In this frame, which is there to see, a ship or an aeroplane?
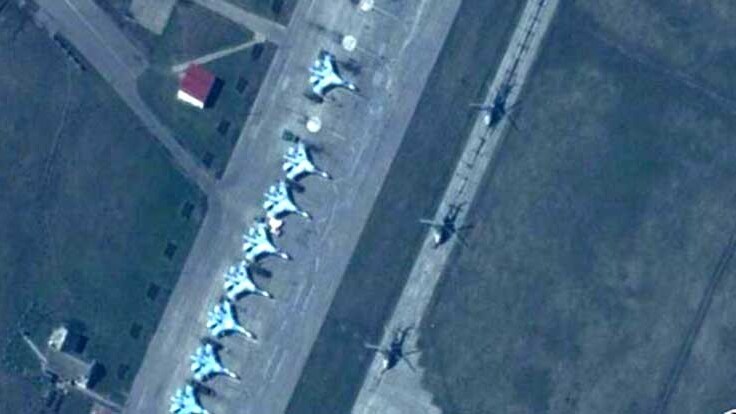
aeroplane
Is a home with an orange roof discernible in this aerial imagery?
No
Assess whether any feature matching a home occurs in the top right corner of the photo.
No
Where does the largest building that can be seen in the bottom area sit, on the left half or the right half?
left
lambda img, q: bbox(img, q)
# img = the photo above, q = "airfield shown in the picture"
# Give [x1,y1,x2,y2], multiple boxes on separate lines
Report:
[24,0,559,414]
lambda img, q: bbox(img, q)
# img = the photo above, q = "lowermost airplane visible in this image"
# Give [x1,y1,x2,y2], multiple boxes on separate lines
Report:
[165,385,216,414]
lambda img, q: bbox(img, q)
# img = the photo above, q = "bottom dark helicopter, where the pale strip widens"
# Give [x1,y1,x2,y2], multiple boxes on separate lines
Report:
[367,326,408,370]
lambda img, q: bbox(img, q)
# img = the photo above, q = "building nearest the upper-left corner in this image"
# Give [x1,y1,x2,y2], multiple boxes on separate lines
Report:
[180,67,217,103]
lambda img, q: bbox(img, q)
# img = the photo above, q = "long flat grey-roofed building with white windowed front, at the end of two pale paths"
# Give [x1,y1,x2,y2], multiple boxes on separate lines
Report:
[42,350,96,387]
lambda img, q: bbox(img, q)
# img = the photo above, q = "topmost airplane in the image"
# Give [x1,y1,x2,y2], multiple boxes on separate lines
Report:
[308,60,359,93]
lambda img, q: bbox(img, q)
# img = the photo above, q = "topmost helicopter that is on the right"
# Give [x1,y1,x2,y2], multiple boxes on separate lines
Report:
[470,85,508,126]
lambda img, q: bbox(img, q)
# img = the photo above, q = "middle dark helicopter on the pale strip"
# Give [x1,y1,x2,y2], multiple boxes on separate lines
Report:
[420,202,461,244]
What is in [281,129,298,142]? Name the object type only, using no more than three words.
vehicle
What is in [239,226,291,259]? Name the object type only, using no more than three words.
airplane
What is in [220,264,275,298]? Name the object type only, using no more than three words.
airplane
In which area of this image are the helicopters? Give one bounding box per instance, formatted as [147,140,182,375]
[470,85,508,126]
[420,202,461,244]
[367,326,408,370]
